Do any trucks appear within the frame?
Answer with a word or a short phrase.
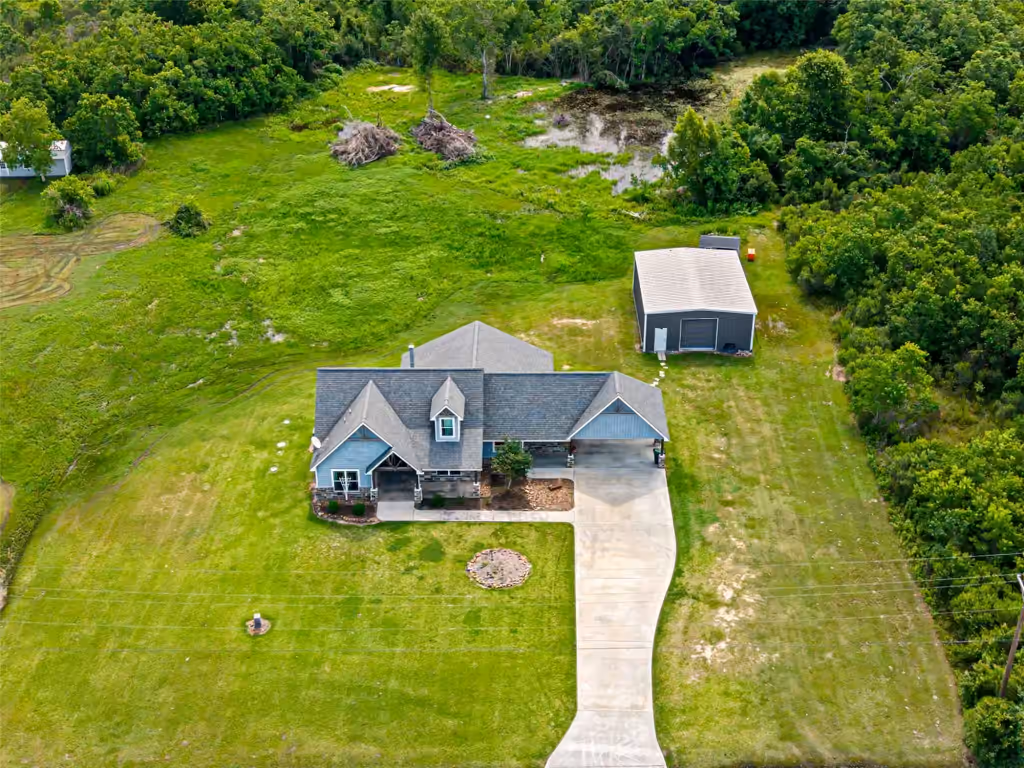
No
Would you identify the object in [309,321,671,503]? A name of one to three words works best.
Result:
house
